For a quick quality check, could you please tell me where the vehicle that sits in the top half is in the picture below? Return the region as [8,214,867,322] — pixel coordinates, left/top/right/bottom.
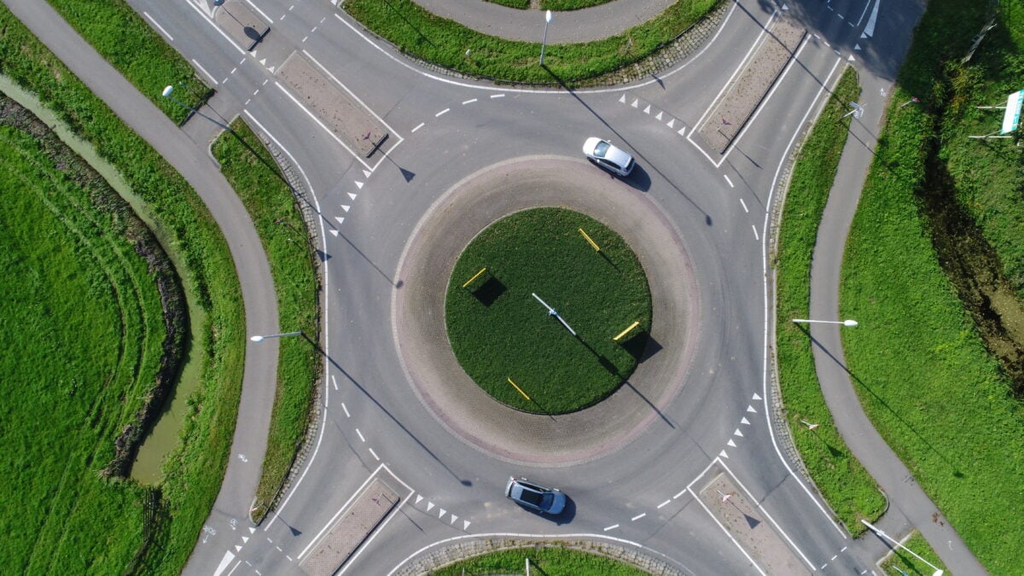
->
[581,138,637,176]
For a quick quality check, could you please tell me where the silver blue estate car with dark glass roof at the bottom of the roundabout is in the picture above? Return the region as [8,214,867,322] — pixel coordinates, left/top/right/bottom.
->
[505,476,567,514]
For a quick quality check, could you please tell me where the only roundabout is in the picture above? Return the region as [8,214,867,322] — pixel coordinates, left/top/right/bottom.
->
[329,93,764,530]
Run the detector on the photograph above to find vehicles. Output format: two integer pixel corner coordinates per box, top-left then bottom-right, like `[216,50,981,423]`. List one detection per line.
[581,138,637,176]
[505,476,567,514]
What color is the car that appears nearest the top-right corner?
white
